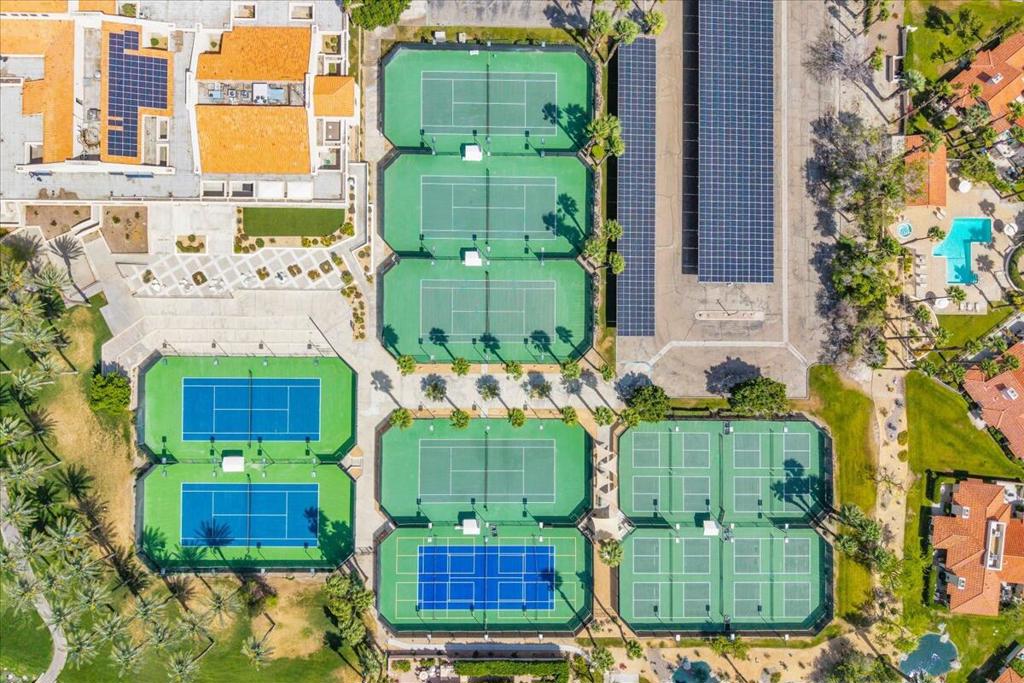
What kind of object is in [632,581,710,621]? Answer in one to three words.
sports court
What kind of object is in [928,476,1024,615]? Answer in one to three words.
house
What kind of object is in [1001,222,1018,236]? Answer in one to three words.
umbrella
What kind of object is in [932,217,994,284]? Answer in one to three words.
swimming pool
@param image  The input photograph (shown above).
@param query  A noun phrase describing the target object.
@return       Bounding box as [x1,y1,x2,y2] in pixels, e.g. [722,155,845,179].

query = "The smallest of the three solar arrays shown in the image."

[108,31,167,156]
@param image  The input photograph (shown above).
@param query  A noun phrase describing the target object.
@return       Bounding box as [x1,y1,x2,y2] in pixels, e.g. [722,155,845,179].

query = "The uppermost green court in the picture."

[385,51,591,154]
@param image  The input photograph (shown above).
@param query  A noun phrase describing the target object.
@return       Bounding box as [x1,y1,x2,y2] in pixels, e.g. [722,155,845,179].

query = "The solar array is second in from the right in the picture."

[617,38,655,336]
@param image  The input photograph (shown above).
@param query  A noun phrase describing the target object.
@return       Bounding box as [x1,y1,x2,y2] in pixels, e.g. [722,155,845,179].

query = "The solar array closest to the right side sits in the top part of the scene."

[698,0,774,283]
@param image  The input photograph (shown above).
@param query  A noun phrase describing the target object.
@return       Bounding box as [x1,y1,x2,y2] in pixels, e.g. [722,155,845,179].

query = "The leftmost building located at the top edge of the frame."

[0,0,361,203]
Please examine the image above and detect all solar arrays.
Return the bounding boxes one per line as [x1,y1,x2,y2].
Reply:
[108,31,167,156]
[617,38,655,336]
[698,0,774,283]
